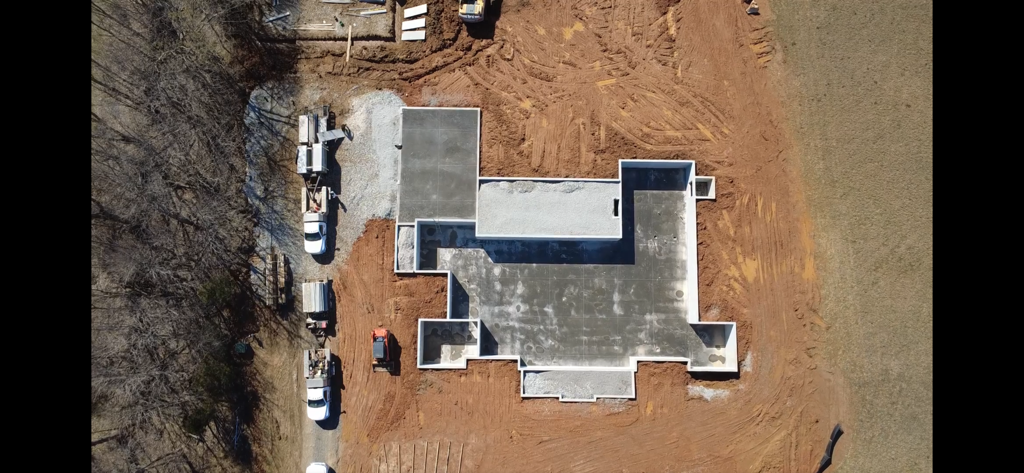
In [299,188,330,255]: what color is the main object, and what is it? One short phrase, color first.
white truck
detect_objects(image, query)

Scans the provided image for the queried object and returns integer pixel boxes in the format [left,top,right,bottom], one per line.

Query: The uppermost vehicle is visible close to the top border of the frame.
[459,0,485,20]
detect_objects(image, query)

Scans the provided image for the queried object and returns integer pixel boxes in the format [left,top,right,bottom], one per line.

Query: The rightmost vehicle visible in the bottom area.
[371,329,394,373]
